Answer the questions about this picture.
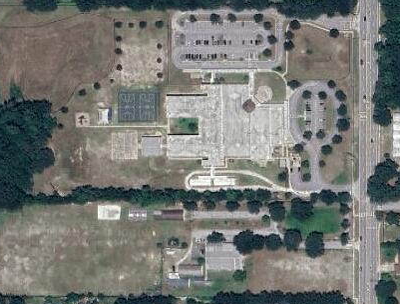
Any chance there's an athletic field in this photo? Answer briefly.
Yes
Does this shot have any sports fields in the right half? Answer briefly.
No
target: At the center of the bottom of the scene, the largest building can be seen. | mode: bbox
[207,241,245,271]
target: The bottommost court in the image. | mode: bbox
[111,131,138,159]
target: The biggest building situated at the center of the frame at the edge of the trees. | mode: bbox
[166,83,287,167]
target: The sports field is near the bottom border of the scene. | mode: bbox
[0,205,161,296]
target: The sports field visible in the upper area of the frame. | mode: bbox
[0,14,116,104]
